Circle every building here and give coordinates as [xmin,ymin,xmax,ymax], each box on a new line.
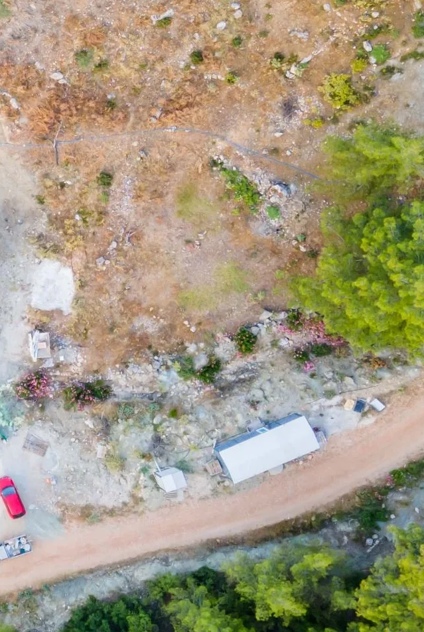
[157,465,187,493]
[210,414,318,484]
